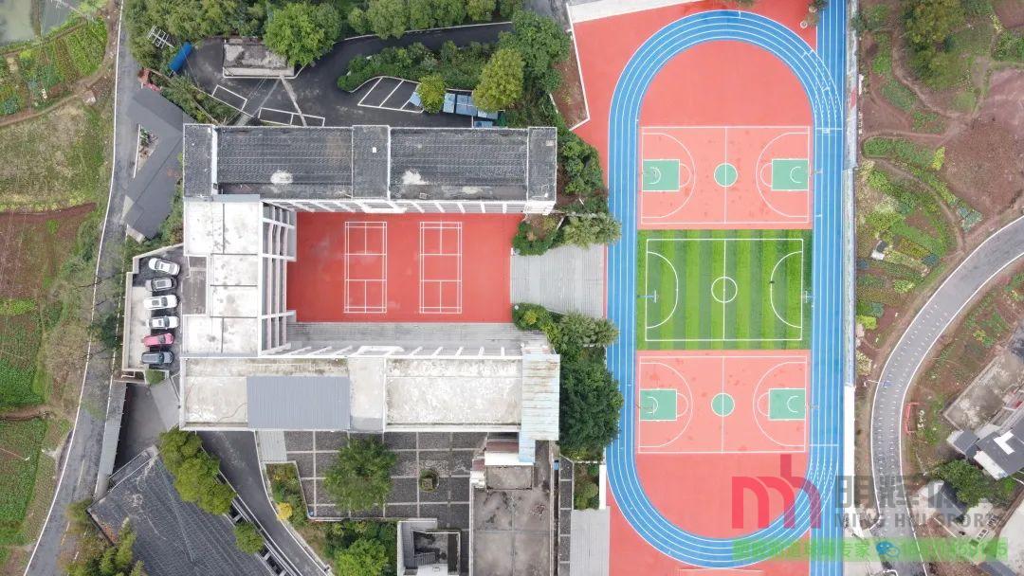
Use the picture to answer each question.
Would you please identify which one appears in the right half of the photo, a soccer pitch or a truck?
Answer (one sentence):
There is a soccer pitch in the right half of the photo.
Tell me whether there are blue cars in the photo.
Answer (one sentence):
No, there's no blue car here.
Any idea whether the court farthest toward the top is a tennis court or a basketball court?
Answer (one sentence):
What you see as the court farthest toward the top is a basketball court.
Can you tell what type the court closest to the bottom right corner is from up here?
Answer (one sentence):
Looking closely, the court closest to the bottom right corner is a basketball court.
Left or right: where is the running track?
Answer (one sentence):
It is on the right.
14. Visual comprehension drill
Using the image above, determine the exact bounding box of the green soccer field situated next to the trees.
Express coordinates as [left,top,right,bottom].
[636,230,812,350]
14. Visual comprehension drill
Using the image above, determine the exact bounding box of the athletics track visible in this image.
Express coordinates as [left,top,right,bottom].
[605,10,843,569]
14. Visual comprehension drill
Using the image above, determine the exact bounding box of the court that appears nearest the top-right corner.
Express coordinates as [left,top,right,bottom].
[637,125,813,230]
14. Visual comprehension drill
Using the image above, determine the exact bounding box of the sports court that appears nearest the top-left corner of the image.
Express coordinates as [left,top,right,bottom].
[345,222,387,313]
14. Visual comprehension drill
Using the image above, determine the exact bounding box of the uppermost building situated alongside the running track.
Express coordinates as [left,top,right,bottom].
[183,124,556,215]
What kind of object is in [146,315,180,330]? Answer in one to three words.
car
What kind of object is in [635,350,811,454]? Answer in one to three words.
basketball court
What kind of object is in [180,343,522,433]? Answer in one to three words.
building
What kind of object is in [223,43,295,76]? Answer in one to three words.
shed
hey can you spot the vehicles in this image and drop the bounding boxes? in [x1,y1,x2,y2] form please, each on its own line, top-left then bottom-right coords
[146,277,178,292]
[143,294,179,310]
[141,350,175,366]
[142,332,175,348]
[148,258,182,276]
[146,315,180,330]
